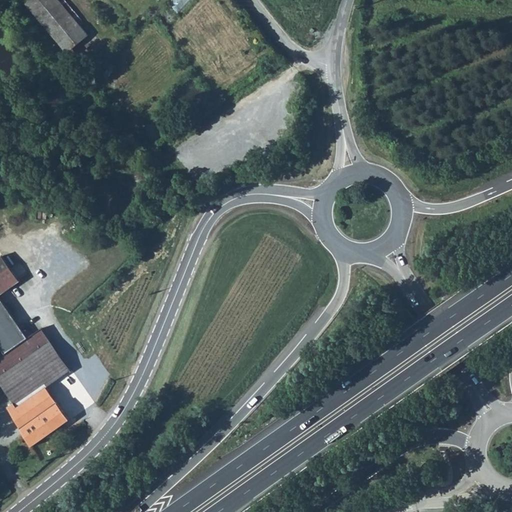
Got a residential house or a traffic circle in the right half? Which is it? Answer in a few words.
traffic circle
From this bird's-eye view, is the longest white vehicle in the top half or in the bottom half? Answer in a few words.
bottom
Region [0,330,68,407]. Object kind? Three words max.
barn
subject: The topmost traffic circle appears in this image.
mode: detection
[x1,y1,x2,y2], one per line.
[279,148,442,281]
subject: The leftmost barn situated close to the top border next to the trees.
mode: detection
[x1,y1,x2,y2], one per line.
[24,0,86,50]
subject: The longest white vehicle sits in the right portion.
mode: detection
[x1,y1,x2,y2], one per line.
[322,427,347,446]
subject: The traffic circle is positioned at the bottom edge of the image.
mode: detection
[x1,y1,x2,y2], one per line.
[466,400,512,495]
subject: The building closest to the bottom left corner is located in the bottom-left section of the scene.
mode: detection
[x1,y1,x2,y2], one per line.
[3,387,67,448]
